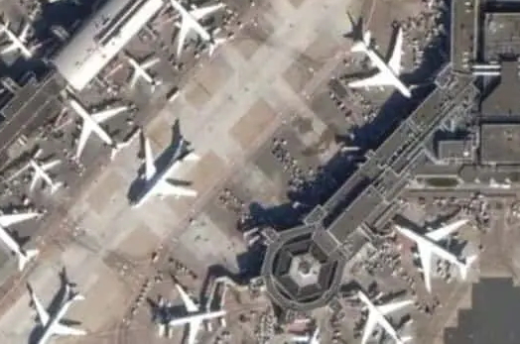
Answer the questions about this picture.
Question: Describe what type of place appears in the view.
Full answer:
The picture captures an airport.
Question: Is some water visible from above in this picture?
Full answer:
No, the picture contains no water.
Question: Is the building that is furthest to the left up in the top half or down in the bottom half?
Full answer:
It is in the top half that the building that is furthest to the left appears.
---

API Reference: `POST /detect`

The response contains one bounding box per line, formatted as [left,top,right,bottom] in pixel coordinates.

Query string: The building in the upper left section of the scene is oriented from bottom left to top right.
[55,0,161,87]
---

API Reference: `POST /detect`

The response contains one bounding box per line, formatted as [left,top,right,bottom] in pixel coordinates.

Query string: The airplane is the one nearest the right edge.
[394,218,473,288]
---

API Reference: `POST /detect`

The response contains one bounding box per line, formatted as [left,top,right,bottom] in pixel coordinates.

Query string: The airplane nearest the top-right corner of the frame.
[346,33,409,96]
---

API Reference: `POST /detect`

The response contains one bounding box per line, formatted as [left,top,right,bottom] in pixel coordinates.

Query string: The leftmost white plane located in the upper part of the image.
[0,22,30,57]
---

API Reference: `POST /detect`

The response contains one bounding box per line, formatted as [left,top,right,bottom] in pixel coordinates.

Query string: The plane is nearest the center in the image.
[131,142,198,208]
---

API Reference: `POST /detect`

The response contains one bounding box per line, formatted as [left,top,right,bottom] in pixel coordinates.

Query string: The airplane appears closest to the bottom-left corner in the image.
[35,289,91,344]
